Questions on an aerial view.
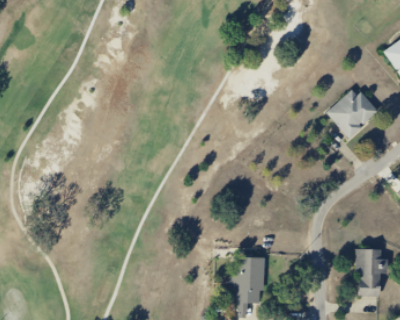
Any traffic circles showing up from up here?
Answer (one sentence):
No, the picture doesn't show any traffic circle.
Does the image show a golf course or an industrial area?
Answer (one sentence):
It's a golf course.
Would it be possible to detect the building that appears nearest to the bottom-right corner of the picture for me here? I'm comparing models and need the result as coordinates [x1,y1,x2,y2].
[356,249,389,296]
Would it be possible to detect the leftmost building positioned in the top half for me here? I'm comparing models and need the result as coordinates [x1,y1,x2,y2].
[328,90,378,138]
